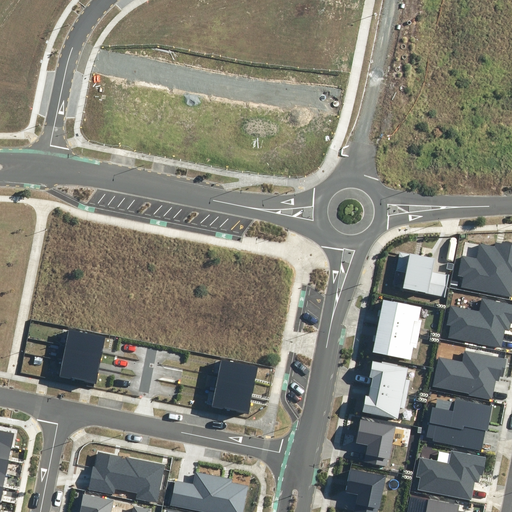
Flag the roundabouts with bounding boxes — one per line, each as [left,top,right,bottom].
[328,188,374,235]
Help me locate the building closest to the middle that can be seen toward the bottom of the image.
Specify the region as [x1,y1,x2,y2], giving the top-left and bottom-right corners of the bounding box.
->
[214,360,258,414]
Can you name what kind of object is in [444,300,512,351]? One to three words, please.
house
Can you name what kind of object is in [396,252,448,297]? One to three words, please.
house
